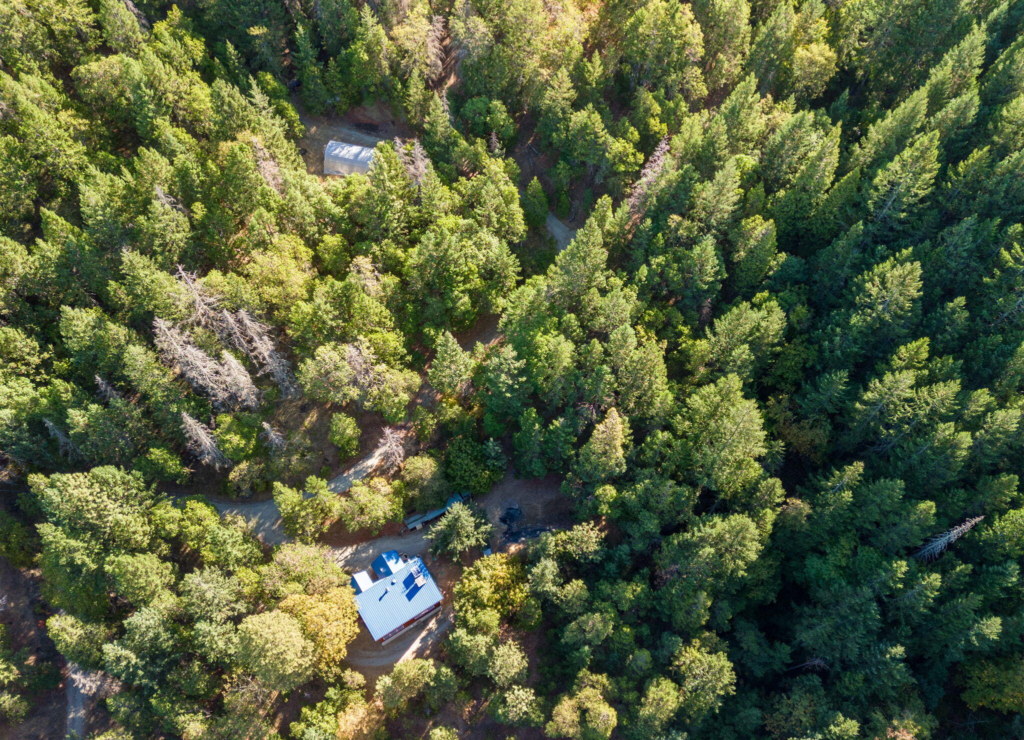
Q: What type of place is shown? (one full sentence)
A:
The area seen from above is a forest.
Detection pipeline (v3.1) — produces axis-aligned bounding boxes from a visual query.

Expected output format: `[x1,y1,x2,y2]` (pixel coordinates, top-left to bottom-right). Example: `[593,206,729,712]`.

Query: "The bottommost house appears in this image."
[343,550,445,645]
